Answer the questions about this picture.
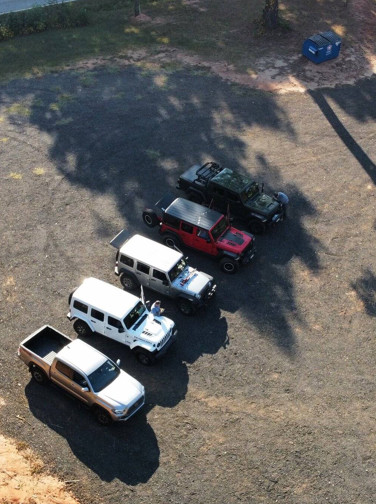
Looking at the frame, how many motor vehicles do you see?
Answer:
five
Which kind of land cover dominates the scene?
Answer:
paved ground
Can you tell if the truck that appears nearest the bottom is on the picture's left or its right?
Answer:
left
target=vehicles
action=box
[112,226,224,316]
[174,159,286,234]
[141,191,263,276]
[70,273,185,366]
[13,321,153,428]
